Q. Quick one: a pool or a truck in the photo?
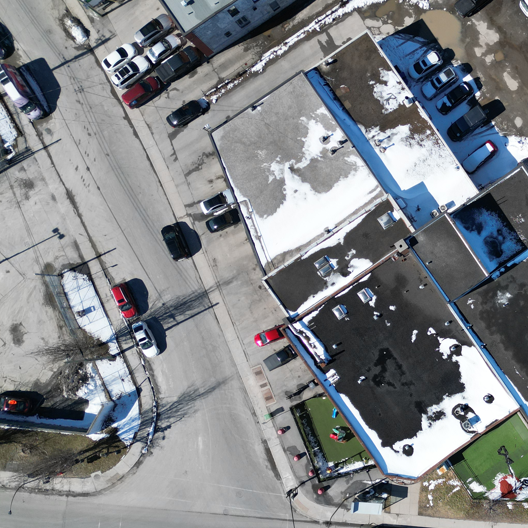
truck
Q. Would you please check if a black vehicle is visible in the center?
Yes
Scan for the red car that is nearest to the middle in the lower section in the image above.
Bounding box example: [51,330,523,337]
[254,323,289,348]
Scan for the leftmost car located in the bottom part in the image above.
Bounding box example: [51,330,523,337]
[0,394,31,412]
